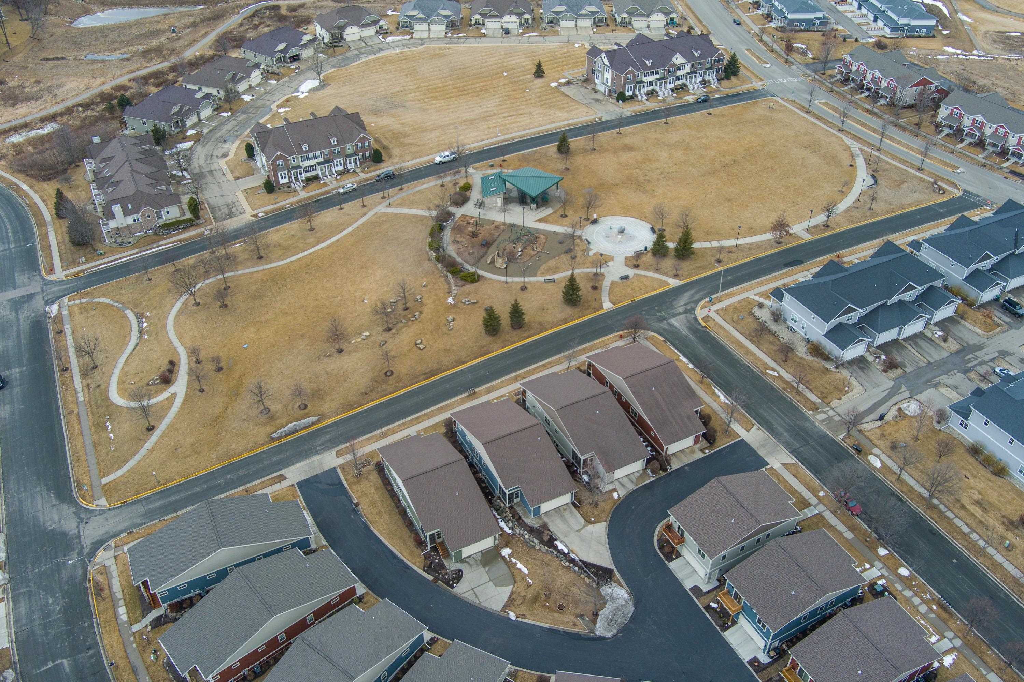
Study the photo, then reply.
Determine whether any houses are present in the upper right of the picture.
Yes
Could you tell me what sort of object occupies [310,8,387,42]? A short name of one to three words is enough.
house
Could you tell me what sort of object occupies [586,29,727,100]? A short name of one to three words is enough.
house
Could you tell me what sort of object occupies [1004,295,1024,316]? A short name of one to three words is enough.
car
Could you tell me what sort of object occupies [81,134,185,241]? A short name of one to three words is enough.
building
